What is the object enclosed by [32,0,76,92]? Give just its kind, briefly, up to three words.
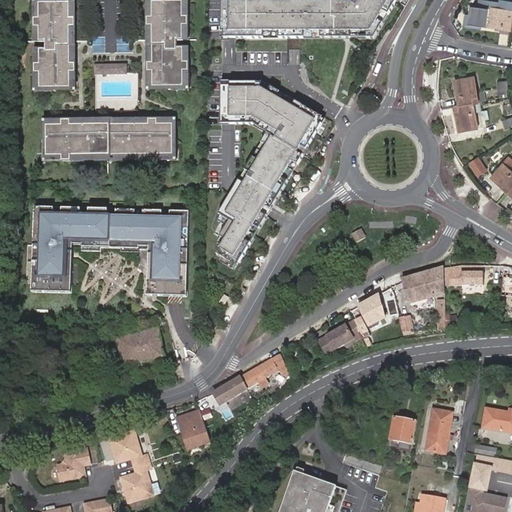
building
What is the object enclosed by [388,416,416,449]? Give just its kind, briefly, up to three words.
house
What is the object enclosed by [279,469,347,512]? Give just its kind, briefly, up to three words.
building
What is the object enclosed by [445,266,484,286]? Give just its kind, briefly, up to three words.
house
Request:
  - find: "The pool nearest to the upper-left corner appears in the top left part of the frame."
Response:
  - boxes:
[96,73,138,110]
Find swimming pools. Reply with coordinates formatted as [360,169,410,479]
[219,404,232,418]
[96,73,138,110]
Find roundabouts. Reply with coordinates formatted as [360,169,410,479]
[342,108,440,206]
